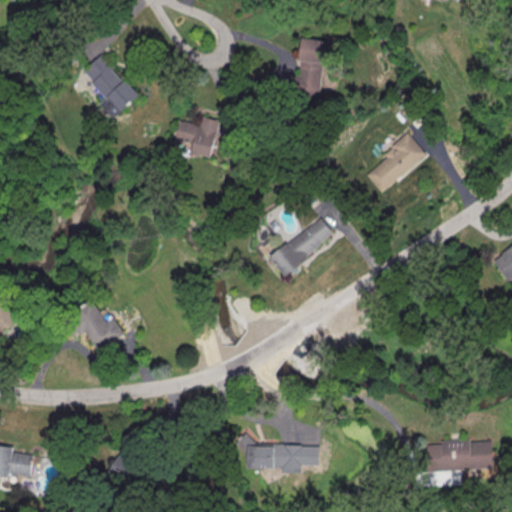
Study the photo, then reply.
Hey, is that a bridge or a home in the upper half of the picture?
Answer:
home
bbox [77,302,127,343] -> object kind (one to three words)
house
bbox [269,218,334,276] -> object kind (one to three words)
house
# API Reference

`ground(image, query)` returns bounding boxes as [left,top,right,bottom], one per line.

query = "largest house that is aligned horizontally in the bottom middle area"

[246,445,320,474]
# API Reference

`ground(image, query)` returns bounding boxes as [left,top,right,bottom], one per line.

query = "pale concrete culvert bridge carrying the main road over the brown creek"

[219,294,300,374]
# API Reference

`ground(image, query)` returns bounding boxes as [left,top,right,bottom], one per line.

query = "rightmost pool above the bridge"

[281,210,298,234]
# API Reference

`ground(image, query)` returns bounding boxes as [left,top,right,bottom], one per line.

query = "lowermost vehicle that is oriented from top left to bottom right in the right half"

[324,214,338,229]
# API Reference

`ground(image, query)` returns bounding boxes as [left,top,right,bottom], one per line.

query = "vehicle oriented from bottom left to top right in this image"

[292,338,310,357]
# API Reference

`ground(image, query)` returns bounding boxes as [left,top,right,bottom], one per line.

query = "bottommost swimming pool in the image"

[44,465,62,494]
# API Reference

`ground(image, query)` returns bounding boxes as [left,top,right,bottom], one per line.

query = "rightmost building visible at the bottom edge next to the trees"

[420,440,496,488]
